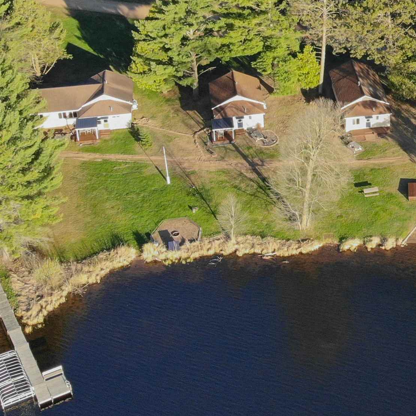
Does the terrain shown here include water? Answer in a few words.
Yes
